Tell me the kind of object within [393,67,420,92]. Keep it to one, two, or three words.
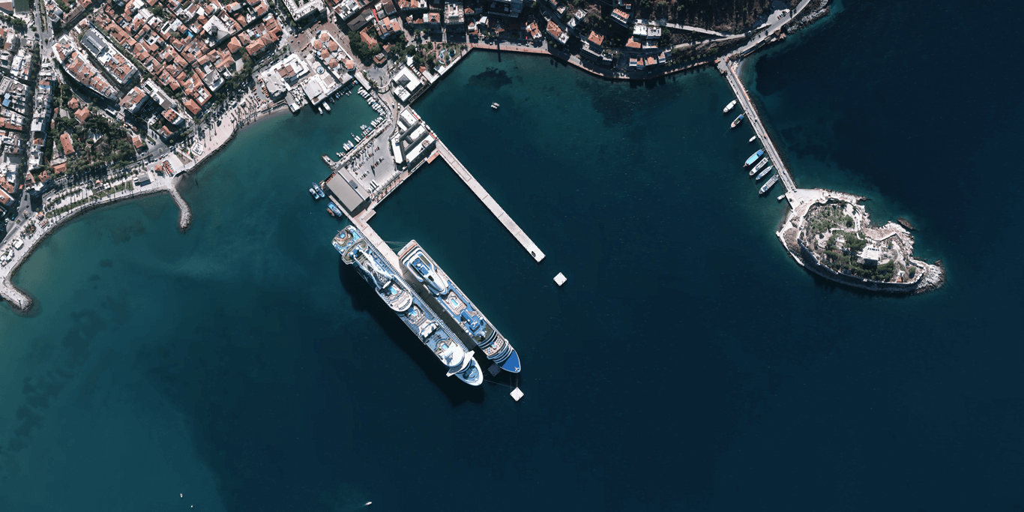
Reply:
building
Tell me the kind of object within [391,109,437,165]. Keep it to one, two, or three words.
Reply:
building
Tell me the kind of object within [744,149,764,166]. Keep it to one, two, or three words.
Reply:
boat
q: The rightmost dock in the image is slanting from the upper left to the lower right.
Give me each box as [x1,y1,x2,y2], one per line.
[436,138,545,262]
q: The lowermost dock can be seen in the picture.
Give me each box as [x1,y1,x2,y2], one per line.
[349,218,477,353]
